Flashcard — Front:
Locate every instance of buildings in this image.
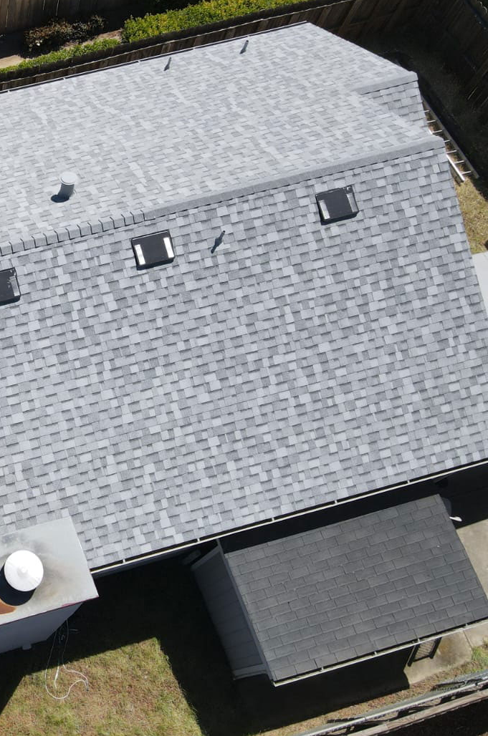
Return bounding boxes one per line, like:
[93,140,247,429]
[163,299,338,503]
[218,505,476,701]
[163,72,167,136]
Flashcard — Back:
[199,493,488,695]
[0,18,488,651]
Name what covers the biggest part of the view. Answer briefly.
buildings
